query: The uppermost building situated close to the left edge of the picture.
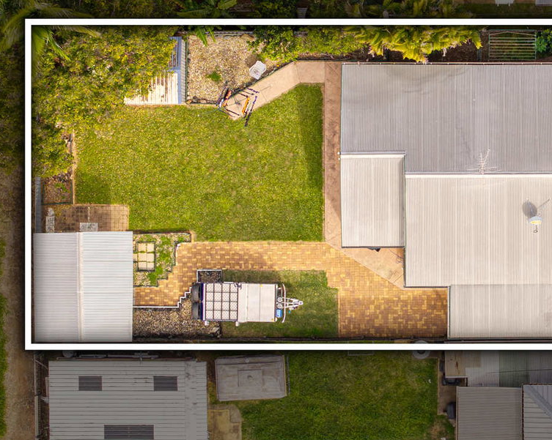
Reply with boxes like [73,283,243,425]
[27,231,134,345]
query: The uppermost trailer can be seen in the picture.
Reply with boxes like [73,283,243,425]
[191,282,303,327]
